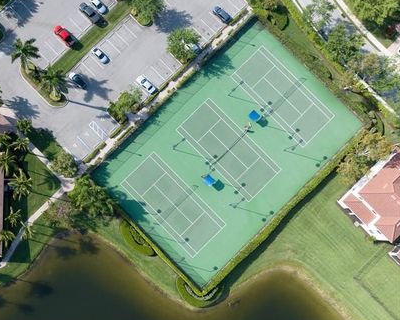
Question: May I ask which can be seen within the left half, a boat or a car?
car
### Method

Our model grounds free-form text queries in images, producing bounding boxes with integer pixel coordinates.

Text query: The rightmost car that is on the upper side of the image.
[214,4,233,22]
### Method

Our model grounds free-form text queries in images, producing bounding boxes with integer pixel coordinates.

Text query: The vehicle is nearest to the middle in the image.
[138,77,157,94]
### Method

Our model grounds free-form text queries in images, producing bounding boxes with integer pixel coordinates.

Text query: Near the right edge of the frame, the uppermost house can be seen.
[337,152,400,242]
